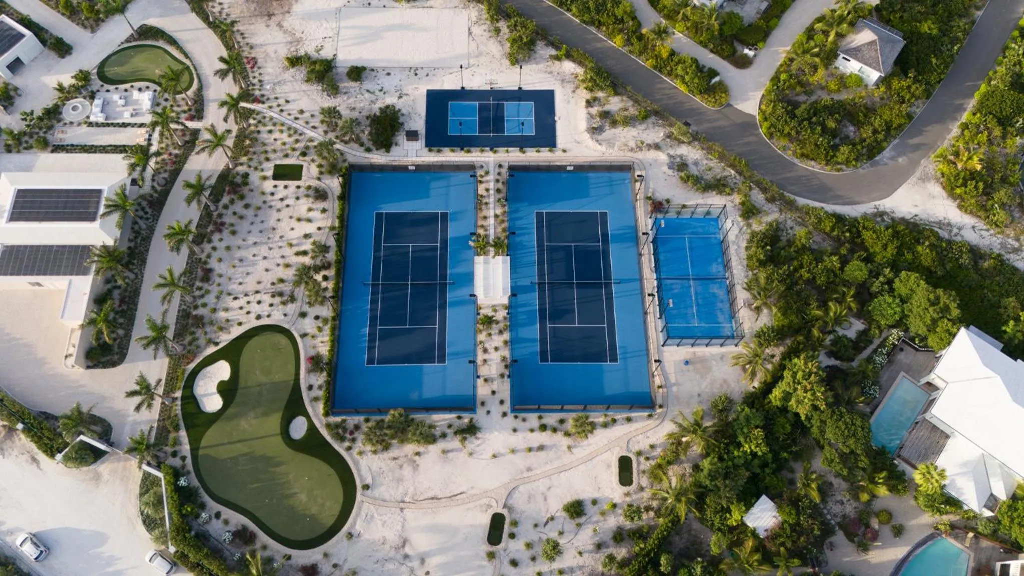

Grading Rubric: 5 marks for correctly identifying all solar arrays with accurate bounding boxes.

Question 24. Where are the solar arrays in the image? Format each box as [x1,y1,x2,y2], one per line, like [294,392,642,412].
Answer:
[0,22,25,55]
[9,191,103,222]
[0,247,91,275]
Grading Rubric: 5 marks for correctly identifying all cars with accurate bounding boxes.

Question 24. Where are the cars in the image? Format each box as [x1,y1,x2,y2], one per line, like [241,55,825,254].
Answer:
[141,547,177,576]
[11,532,49,564]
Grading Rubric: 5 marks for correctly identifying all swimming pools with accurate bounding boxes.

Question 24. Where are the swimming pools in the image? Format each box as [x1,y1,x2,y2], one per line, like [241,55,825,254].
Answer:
[870,371,929,457]
[886,527,975,576]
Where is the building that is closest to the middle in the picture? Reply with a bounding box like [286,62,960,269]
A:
[474,256,511,307]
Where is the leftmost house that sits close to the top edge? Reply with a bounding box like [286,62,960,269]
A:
[0,12,42,78]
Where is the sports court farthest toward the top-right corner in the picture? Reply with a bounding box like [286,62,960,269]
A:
[647,216,739,348]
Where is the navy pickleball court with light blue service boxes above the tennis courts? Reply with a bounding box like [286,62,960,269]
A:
[423,89,556,148]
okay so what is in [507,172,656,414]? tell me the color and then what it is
blue tennis court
